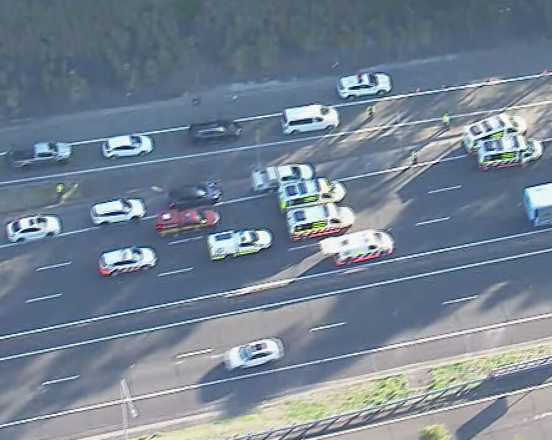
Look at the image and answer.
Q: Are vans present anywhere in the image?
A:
Yes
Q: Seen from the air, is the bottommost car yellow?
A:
No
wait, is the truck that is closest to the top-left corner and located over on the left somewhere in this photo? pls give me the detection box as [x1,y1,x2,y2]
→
[9,140,71,170]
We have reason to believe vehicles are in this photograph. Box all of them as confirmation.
[156,207,219,238]
[185,118,246,148]
[276,175,348,215]
[321,233,394,268]
[101,133,154,162]
[7,215,62,244]
[338,72,391,102]
[165,180,227,210]
[523,181,552,226]
[282,105,340,137]
[284,202,356,244]
[101,246,157,278]
[224,340,283,372]
[91,198,146,229]
[207,230,271,263]
[249,165,314,195]
[474,132,545,173]
[9,140,71,170]
[460,113,529,158]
